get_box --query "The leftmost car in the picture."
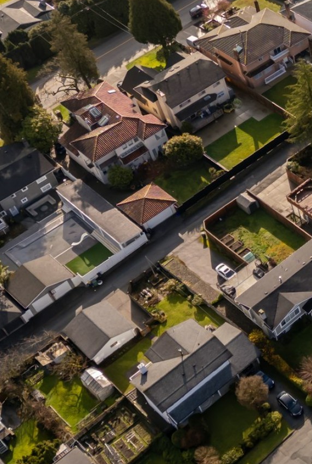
[108,74,132,92]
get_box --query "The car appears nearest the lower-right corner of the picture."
[276,392,306,418]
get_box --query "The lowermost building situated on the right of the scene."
[127,316,262,434]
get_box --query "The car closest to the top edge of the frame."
[186,3,209,18]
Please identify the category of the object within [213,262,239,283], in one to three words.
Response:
car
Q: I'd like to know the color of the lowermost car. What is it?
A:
black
